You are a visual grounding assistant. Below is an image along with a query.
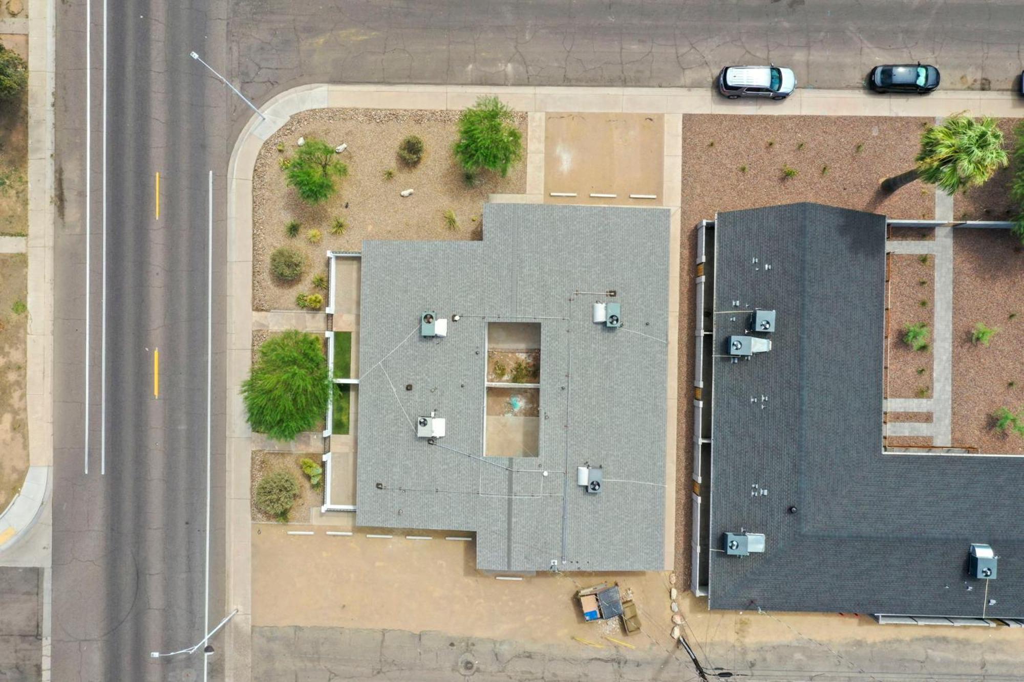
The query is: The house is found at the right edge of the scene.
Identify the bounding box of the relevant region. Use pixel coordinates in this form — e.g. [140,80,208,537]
[707,203,1024,620]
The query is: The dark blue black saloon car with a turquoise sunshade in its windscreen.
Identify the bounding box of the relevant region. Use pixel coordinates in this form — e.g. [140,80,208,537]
[868,59,940,95]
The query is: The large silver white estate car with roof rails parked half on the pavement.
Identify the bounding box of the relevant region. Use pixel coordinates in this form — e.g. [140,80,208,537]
[716,61,795,100]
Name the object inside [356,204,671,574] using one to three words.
house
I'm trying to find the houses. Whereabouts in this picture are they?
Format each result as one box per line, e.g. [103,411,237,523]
[707,203,1024,620]
[356,204,671,574]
